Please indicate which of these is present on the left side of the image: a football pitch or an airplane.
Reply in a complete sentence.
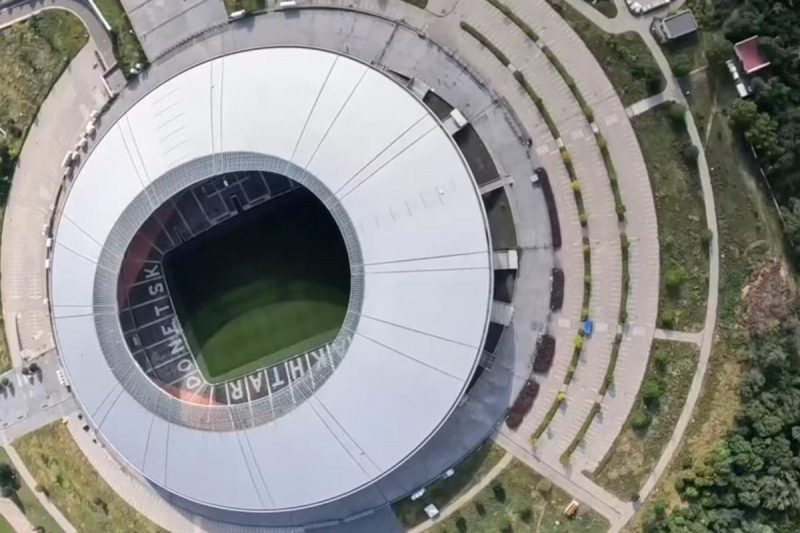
The feature located on the left side of the image is a football pitch.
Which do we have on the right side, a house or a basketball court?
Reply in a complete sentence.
Visible on the right side is a house.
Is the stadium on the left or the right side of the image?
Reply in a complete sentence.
The stadium appears in the left half of the scene.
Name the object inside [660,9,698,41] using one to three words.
house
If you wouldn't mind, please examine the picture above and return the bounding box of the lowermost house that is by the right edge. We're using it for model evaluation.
[730,37,769,74]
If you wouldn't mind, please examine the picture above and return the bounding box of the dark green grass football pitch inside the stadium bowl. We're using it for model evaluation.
[159,181,365,383]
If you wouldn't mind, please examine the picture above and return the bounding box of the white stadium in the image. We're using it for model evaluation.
[49,47,493,513]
